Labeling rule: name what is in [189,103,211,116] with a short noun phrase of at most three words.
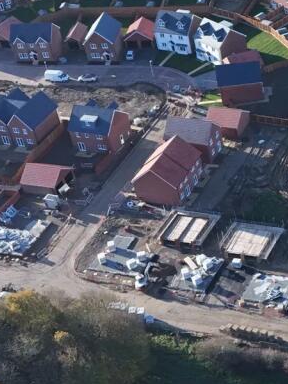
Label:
vehicle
